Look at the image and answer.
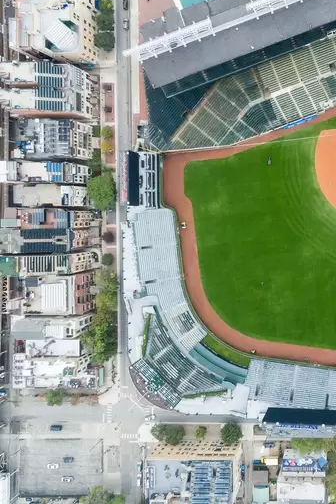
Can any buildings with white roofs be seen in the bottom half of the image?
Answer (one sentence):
Yes, a building with a white roof can be seen in the bottom half of the image.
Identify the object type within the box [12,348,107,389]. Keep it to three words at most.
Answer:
building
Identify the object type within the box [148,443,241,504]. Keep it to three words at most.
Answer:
building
